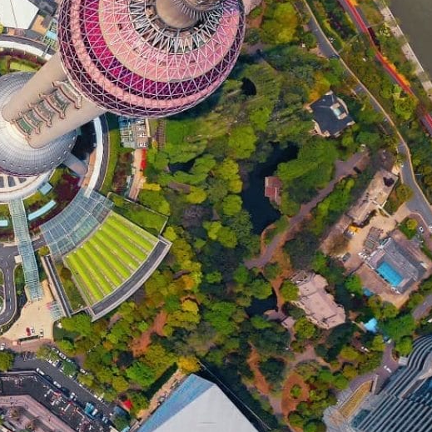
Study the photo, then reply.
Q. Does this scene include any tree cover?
Yes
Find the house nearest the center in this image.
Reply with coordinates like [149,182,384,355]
[261,177,282,202]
